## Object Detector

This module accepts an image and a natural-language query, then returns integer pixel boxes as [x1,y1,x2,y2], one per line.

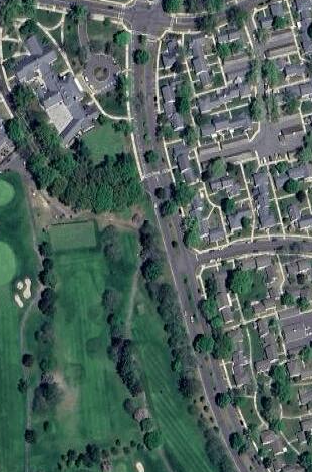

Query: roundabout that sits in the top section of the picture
[83,56,120,94]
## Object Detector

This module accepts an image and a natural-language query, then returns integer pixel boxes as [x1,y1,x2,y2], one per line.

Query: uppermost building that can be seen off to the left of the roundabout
[18,53,62,102]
